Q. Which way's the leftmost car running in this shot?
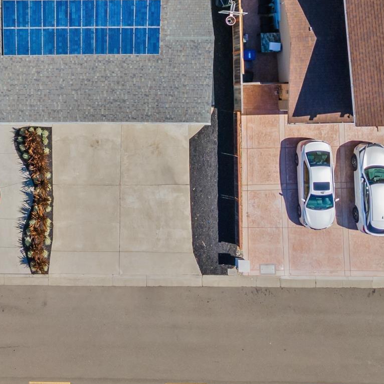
from top to bottom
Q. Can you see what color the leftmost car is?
white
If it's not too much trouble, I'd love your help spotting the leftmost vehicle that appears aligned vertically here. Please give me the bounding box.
[291,138,339,232]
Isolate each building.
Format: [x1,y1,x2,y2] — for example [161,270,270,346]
[279,0,384,128]
[0,0,218,124]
